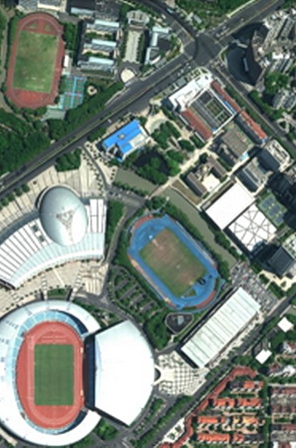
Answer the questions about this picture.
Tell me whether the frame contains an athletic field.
Yes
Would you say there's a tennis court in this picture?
Yes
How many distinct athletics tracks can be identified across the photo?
3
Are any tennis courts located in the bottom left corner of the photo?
No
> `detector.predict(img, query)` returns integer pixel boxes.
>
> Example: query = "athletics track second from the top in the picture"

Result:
[127,215,218,309]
